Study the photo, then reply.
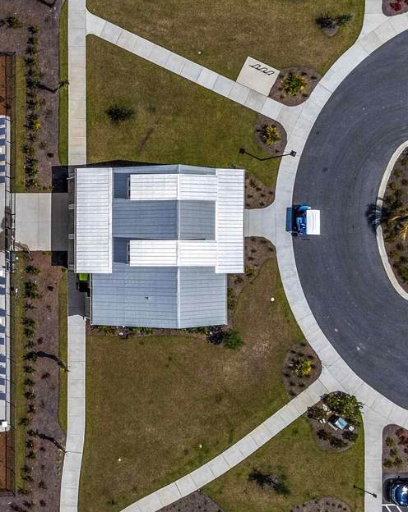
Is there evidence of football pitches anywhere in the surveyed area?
No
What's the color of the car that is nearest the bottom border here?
black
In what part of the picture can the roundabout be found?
right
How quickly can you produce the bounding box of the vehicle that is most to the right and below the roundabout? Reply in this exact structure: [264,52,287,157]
[384,481,408,507]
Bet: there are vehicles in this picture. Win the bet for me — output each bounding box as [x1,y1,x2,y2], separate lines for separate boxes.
[384,481,408,507]
[292,207,321,237]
